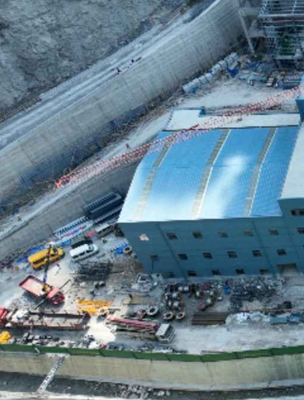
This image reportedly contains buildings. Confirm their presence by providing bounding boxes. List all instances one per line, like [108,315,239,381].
[231,0,304,67]
[111,79,304,283]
